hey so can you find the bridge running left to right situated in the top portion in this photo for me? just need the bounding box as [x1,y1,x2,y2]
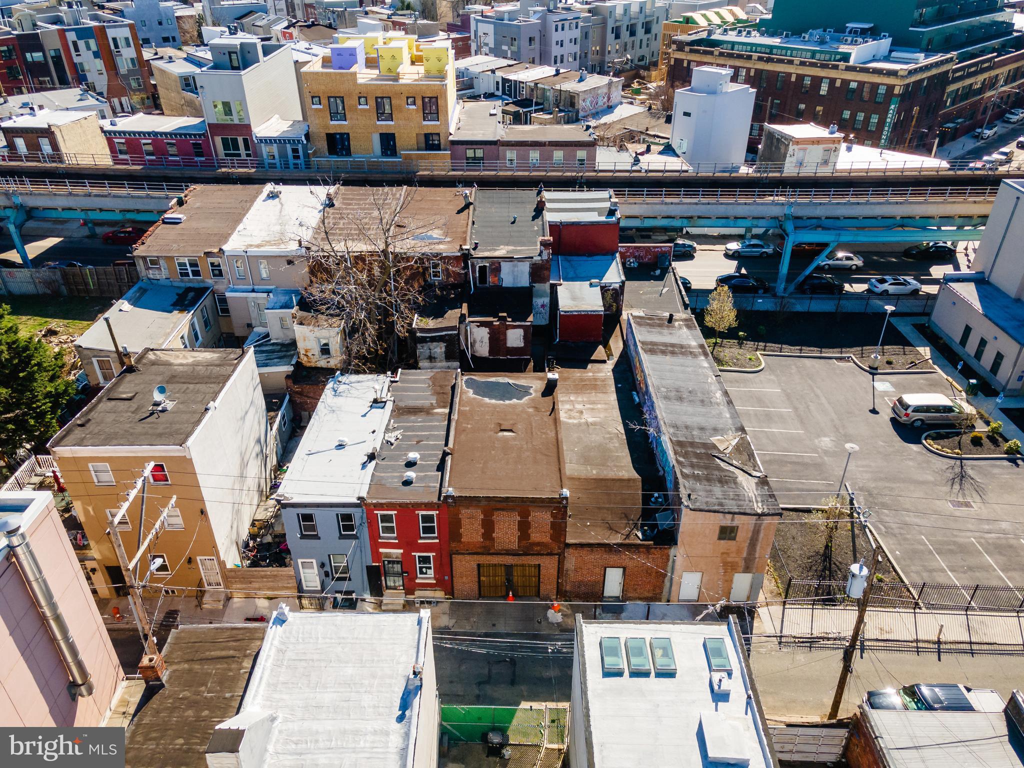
[0,160,1024,228]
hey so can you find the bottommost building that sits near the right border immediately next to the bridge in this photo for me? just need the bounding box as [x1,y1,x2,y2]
[928,272,1024,392]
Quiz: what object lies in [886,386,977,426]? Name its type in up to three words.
car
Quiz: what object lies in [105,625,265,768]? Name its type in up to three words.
house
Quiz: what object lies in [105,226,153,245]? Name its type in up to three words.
car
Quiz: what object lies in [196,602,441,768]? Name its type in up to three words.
house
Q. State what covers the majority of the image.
buildings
